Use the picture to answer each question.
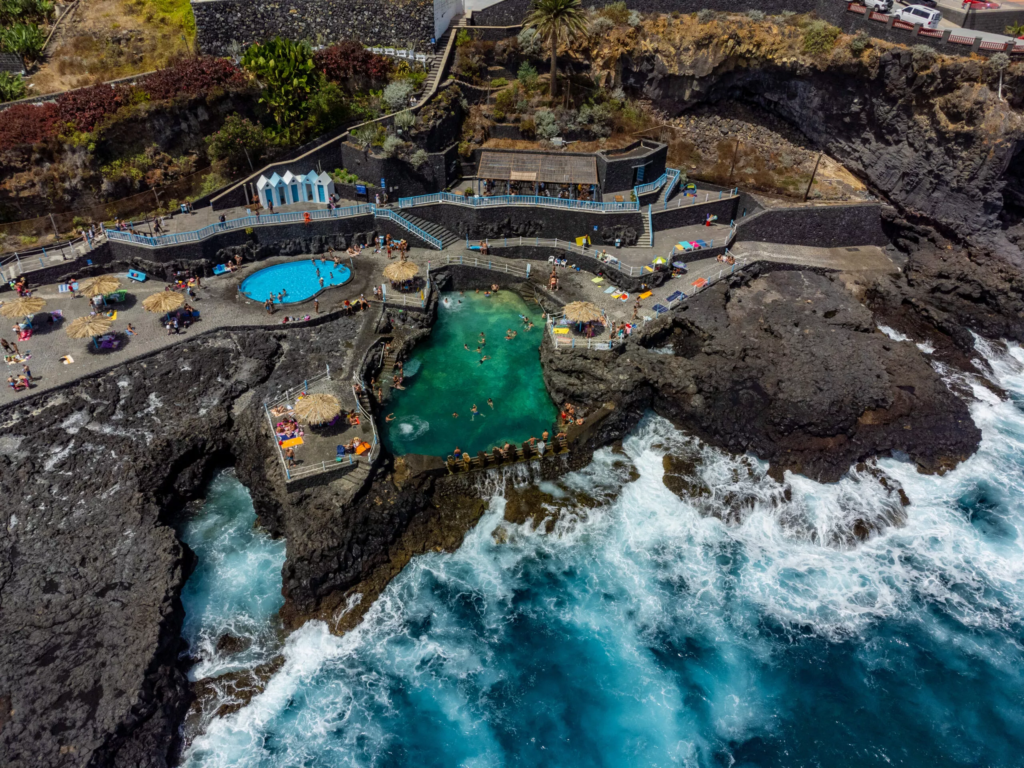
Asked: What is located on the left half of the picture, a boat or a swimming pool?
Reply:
swimming pool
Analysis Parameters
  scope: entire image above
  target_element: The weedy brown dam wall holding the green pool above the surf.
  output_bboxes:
[443,437,569,481]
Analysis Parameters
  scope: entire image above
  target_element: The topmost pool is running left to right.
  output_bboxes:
[238,258,354,306]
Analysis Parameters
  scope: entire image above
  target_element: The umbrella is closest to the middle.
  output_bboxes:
[562,302,600,333]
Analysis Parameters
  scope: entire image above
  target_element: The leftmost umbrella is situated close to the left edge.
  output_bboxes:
[2,299,42,330]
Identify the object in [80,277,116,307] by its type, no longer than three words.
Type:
umbrella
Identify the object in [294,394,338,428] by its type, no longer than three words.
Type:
umbrella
